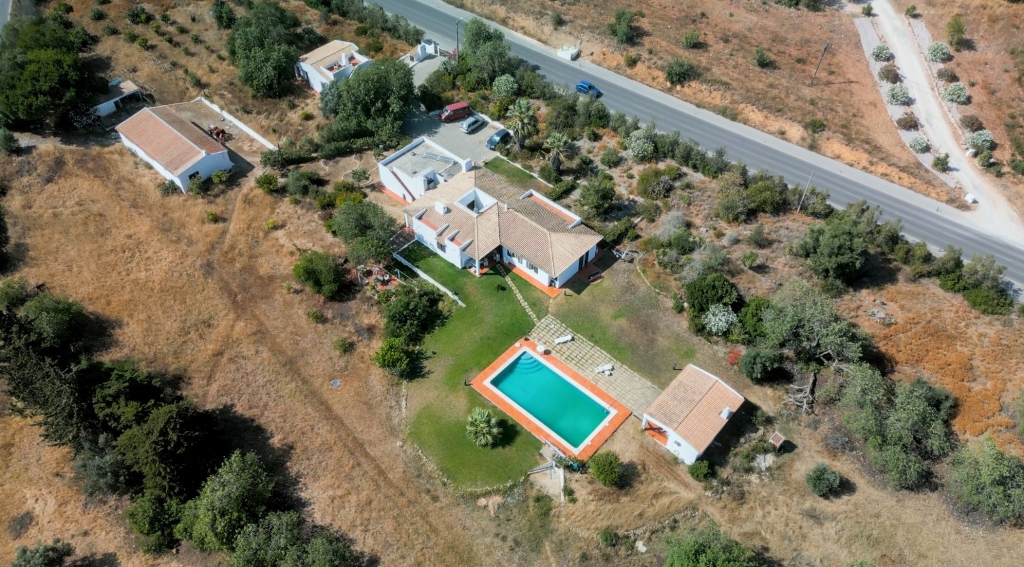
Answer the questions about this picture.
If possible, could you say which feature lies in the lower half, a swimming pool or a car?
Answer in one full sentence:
There is a swimming pool in the lower half.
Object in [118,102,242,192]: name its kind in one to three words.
barn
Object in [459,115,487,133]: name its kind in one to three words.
car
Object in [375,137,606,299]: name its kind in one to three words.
house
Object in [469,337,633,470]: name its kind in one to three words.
swimming pool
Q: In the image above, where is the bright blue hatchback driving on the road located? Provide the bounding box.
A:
[576,77,601,94]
